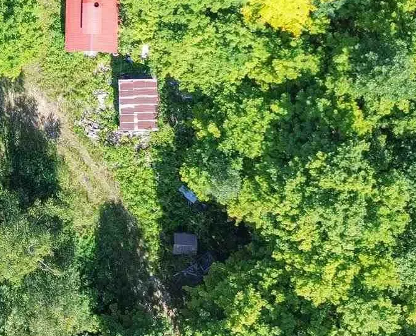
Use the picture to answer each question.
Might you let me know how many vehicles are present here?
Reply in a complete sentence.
The count of vehicles is 0.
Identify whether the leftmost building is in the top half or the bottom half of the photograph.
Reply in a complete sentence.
You can find the leftmost building in the top half.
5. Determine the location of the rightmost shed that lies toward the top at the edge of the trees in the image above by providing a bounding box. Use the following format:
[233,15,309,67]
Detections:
[117,78,159,132]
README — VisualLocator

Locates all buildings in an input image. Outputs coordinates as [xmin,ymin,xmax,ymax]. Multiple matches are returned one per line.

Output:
[172,228,198,254]
[65,0,118,57]
[117,78,159,132]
